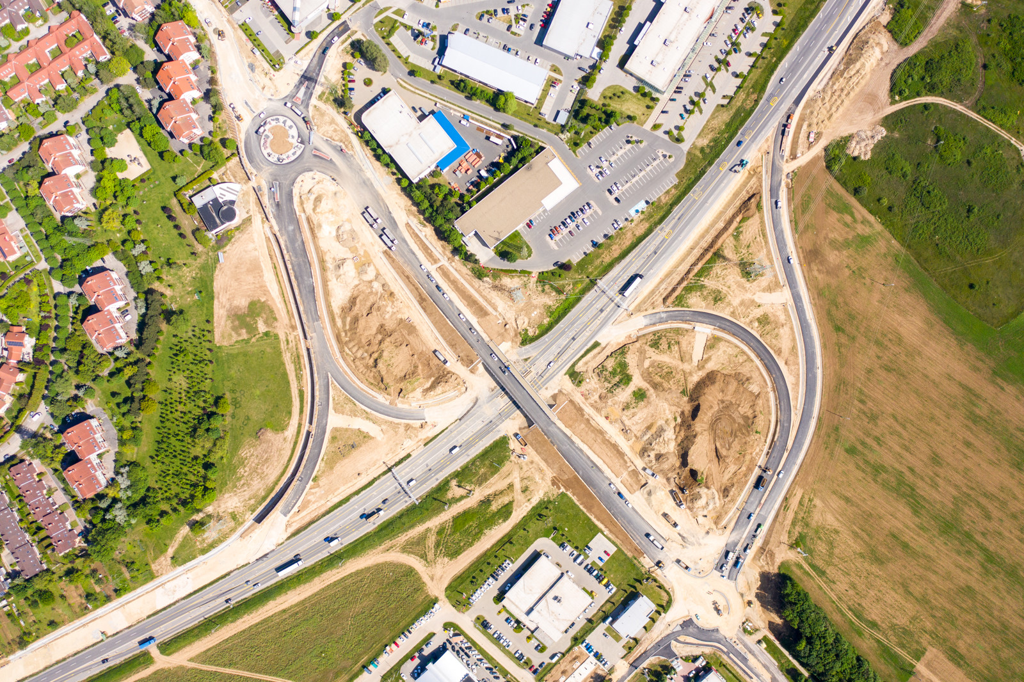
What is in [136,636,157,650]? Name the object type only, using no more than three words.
vehicle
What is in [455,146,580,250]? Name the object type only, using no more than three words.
building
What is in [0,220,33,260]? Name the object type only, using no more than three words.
house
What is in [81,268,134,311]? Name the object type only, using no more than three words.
house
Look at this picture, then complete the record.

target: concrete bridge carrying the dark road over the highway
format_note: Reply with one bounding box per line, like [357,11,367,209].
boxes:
[468,340,567,433]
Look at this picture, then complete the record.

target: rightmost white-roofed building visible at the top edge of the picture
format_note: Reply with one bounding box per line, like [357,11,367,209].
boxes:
[622,0,733,98]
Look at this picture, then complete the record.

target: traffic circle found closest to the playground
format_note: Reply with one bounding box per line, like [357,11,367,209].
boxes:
[244,101,320,176]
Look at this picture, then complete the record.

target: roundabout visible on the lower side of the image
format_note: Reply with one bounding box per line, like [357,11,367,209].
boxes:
[672,557,746,631]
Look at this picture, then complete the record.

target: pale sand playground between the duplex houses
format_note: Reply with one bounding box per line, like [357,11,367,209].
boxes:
[106,129,150,170]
